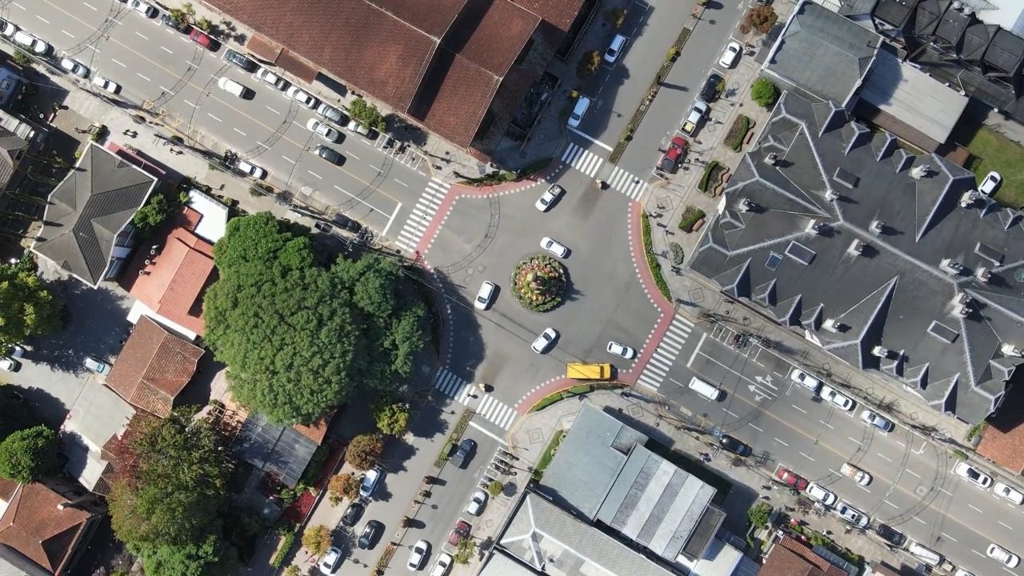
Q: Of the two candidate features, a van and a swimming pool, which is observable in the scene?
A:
van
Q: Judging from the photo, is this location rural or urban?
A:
urban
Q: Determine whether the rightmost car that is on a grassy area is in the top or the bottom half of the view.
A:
top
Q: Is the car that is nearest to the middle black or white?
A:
white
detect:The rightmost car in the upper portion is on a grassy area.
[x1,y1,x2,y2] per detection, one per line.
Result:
[977,169,1001,194]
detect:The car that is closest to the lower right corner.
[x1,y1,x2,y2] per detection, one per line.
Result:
[985,543,1015,566]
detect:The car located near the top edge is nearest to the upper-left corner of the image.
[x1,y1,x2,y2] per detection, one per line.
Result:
[0,16,21,38]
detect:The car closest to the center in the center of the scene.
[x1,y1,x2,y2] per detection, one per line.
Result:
[474,280,496,310]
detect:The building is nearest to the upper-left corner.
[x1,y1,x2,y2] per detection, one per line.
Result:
[0,64,38,116]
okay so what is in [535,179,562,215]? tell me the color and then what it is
white truck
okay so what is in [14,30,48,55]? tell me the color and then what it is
white car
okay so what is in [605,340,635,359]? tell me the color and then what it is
white car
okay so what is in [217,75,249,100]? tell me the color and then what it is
white vehicle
